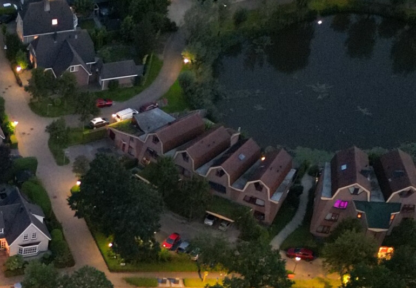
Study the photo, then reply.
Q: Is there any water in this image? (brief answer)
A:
Yes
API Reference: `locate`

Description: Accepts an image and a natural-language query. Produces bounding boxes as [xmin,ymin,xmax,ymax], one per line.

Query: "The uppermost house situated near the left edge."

[9,0,76,48]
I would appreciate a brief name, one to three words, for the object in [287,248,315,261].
vehicle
